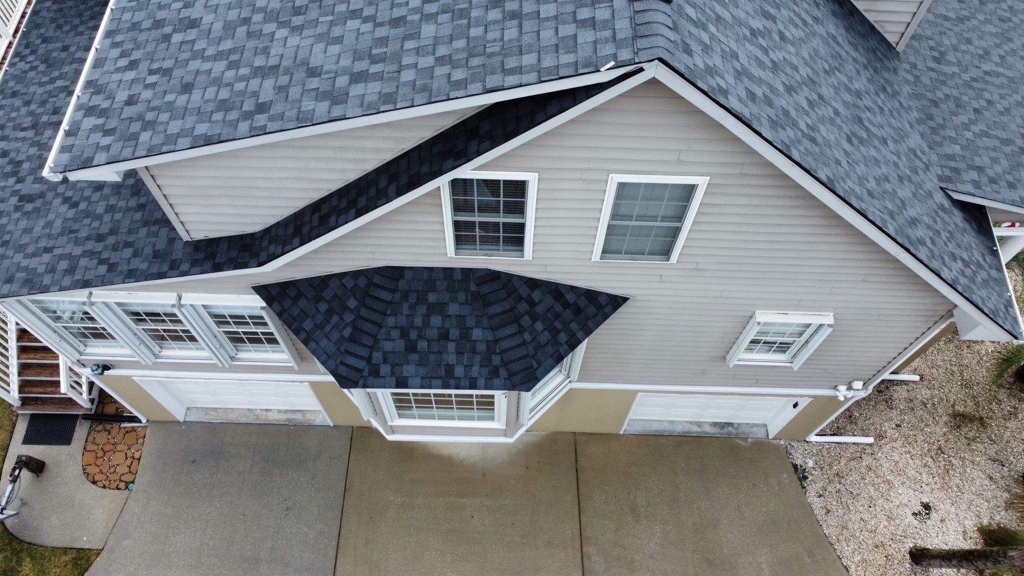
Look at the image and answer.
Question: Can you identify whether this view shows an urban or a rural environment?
urban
